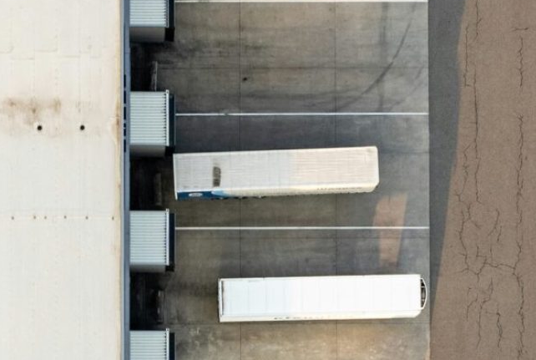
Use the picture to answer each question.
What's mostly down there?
paved ground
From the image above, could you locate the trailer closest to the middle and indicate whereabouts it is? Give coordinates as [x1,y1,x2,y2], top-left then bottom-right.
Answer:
[169,145,378,199]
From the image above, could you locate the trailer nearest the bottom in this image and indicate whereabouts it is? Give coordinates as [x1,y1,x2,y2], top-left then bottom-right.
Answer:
[212,274,427,320]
